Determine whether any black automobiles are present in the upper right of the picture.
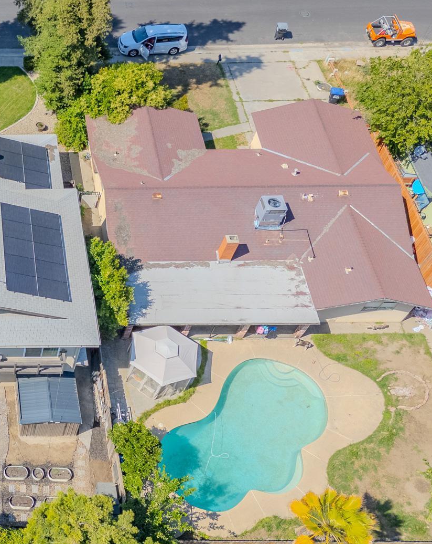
No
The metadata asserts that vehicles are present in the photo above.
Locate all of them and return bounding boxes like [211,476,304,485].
[364,17,416,47]
[116,20,189,61]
